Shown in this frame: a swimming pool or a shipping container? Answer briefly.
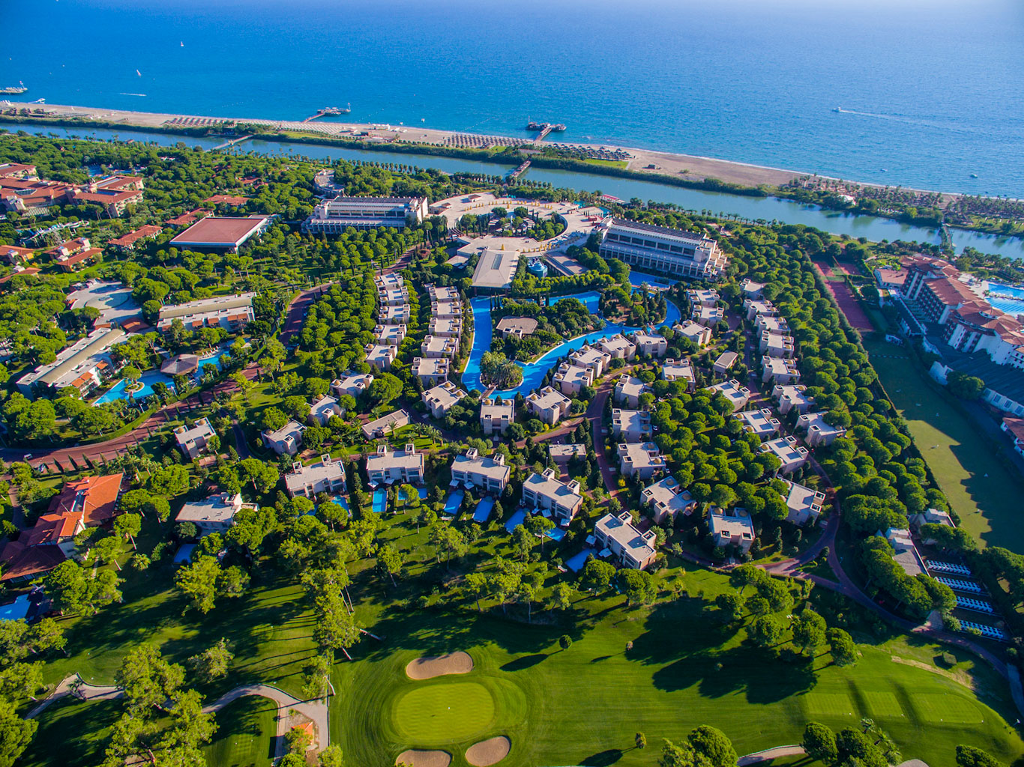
swimming pool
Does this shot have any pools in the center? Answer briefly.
Yes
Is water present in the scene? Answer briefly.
Yes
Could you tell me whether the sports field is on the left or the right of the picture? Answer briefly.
right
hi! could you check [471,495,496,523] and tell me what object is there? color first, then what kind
blue swimming pool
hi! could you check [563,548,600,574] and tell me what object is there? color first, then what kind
blue swimming pool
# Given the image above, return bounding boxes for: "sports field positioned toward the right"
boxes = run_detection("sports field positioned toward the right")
[862,336,1024,552]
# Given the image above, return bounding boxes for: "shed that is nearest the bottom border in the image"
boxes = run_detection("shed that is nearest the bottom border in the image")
[287,711,323,749]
